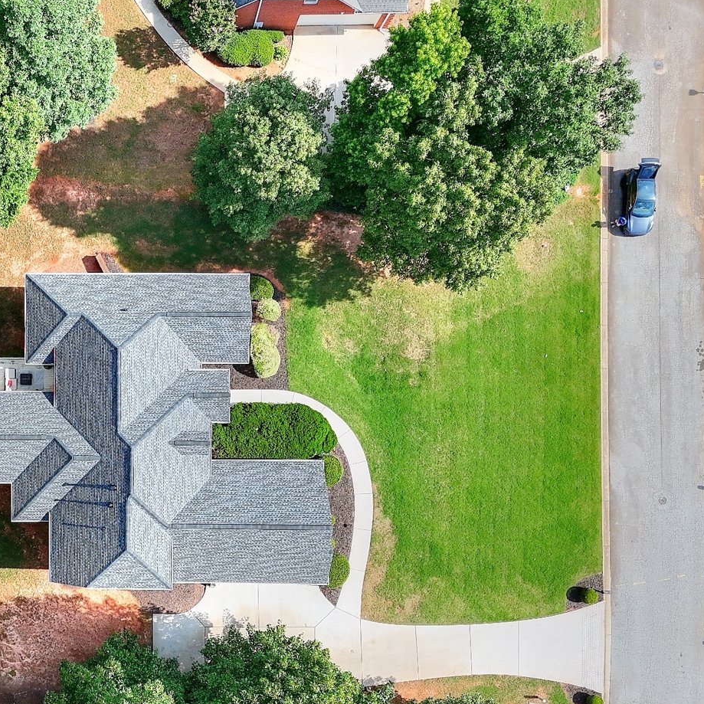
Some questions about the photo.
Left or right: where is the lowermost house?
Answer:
left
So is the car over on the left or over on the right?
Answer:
right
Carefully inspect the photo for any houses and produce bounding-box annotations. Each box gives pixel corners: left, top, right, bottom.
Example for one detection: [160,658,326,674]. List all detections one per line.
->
[0,272,334,590]
[230,0,411,31]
